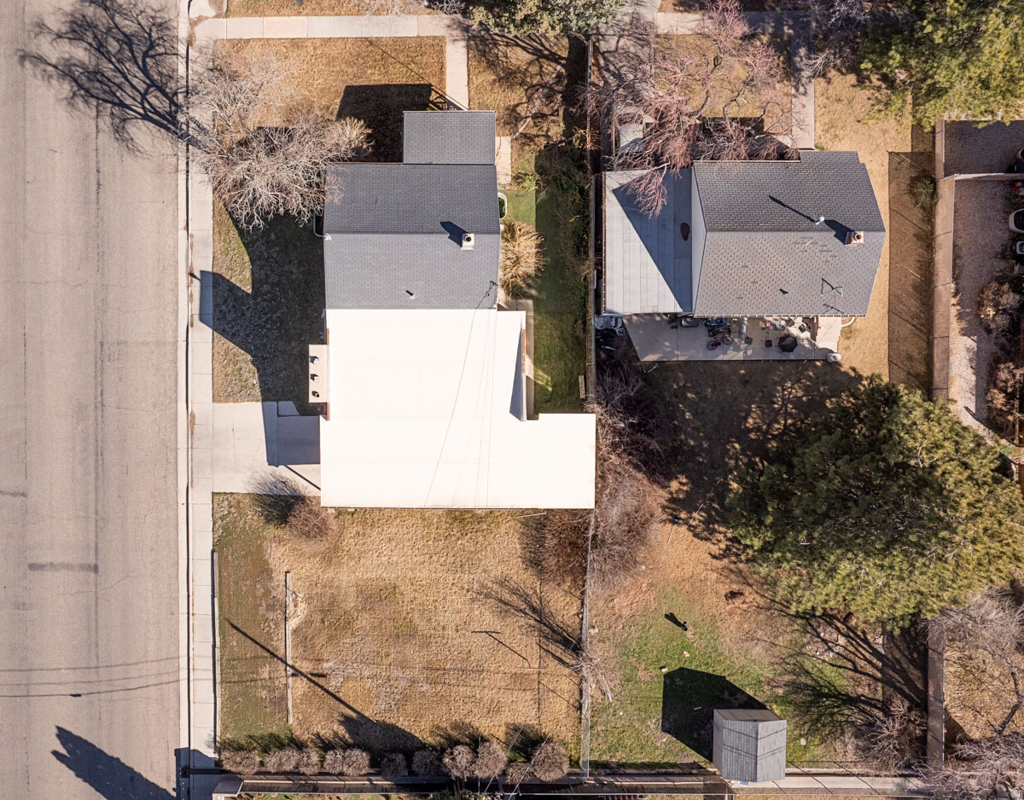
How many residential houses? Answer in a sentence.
The picture shows 2 residential houses.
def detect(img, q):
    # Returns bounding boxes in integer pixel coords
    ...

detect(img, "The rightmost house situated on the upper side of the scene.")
[597,152,887,318]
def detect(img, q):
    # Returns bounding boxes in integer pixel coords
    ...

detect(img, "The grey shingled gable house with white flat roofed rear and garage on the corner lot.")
[309,110,595,510]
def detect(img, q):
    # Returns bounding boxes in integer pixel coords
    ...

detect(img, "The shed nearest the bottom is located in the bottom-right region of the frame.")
[714,709,786,780]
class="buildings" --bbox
[597,152,887,318]
[309,110,595,510]
[714,709,786,780]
